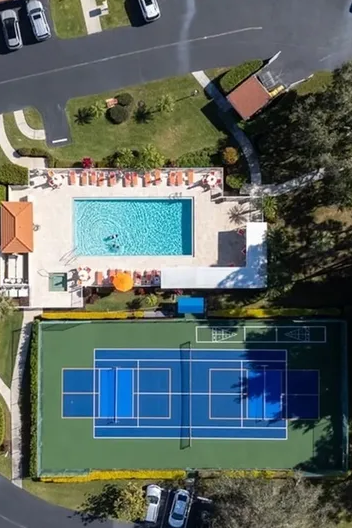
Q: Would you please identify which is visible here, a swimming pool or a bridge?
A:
swimming pool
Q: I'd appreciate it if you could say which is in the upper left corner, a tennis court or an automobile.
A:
automobile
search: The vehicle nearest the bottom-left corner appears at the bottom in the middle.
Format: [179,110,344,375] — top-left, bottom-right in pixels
[143,481,162,525]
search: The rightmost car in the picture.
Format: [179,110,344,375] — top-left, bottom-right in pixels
[169,486,190,527]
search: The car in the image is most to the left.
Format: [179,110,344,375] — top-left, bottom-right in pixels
[2,10,23,51]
